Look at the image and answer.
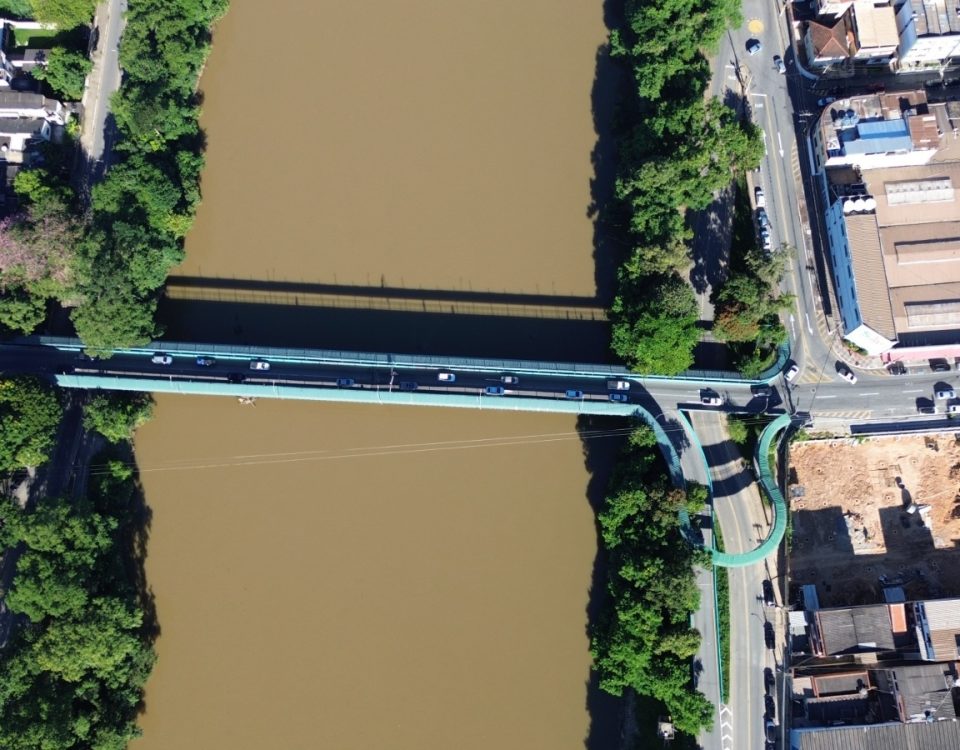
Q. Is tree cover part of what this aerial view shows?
Yes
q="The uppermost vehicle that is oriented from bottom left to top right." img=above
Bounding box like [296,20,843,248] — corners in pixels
[744,39,763,55]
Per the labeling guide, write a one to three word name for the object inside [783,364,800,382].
car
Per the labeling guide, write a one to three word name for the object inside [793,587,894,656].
house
